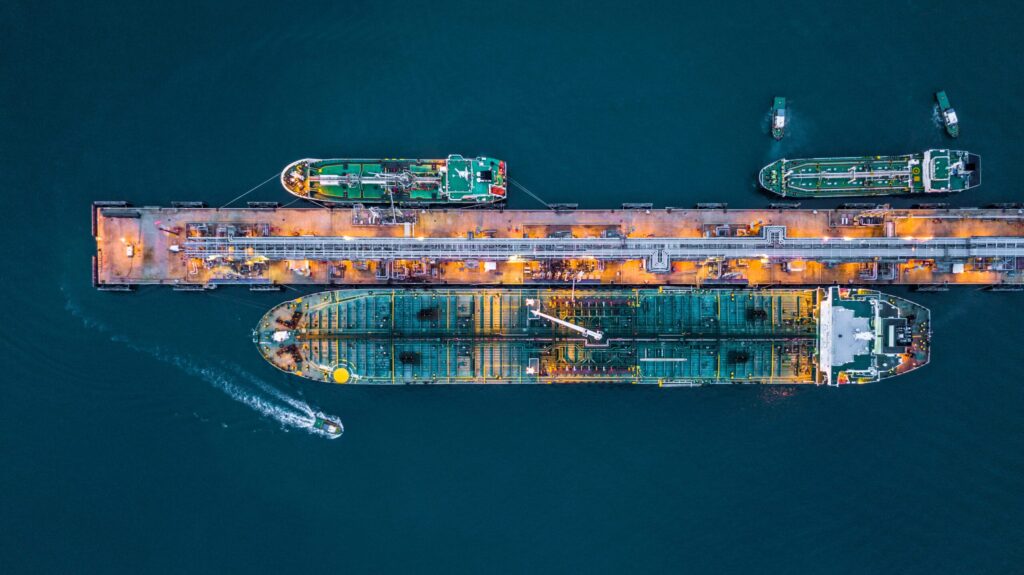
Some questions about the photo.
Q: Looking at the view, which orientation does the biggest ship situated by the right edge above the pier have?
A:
from side to side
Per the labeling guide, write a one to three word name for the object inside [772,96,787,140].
boat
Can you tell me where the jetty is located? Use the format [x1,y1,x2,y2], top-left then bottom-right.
[91,201,1024,291]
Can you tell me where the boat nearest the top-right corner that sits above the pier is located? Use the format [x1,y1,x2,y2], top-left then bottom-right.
[937,90,959,136]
